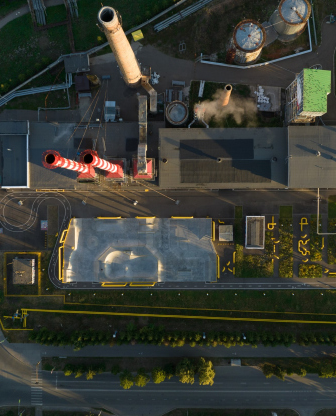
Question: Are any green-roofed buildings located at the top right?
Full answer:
Yes, a green-roofed building appears at the top right.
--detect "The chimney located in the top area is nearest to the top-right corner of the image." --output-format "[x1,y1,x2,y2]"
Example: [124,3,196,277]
[216,84,232,110]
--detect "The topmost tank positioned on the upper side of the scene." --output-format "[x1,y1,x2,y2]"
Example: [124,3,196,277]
[271,0,311,39]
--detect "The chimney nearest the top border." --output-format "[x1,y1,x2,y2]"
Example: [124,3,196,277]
[98,5,142,89]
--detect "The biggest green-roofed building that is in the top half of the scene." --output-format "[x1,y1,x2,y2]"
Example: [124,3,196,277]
[282,64,332,126]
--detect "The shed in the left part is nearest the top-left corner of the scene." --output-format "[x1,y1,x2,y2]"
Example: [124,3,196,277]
[64,53,90,75]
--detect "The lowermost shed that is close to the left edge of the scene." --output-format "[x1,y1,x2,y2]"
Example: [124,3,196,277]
[13,257,37,284]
